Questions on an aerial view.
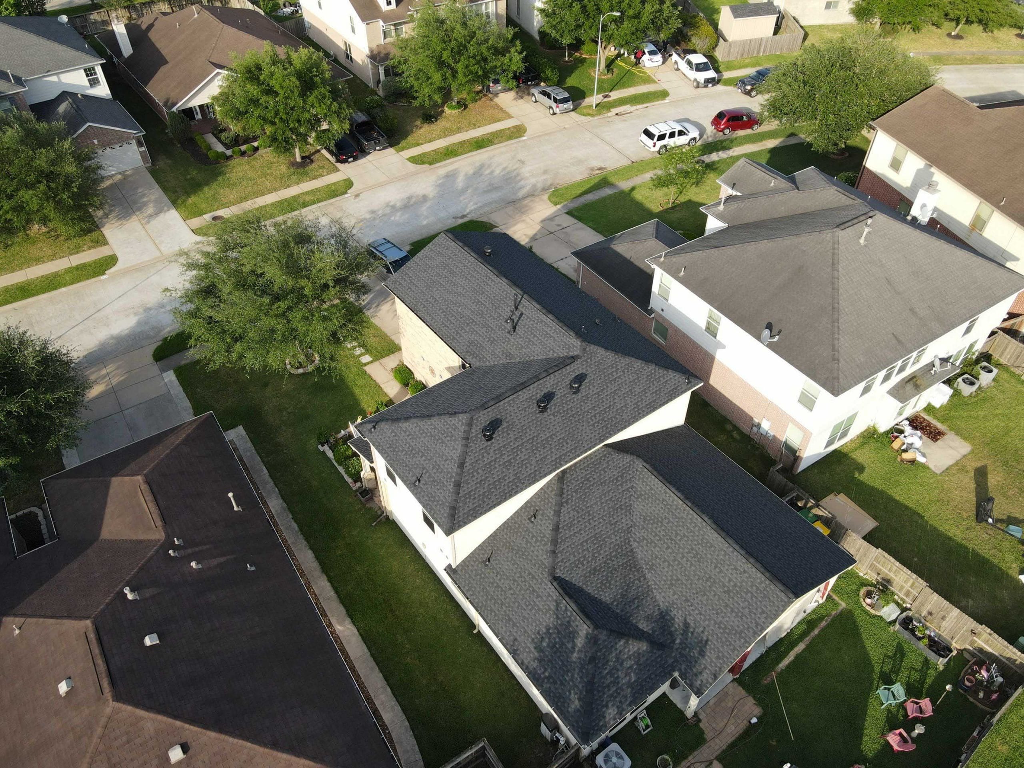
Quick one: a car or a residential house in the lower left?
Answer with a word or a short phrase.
residential house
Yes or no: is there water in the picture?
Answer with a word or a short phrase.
No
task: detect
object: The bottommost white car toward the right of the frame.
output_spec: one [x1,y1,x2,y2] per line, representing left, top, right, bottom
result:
[638,119,704,156]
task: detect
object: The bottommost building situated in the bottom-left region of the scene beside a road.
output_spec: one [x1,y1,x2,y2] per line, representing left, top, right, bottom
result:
[0,411,398,768]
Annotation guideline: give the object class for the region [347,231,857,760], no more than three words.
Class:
house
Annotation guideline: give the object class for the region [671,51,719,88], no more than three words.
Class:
truck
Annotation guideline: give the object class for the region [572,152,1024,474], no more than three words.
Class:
house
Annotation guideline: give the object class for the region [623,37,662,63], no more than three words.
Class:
car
